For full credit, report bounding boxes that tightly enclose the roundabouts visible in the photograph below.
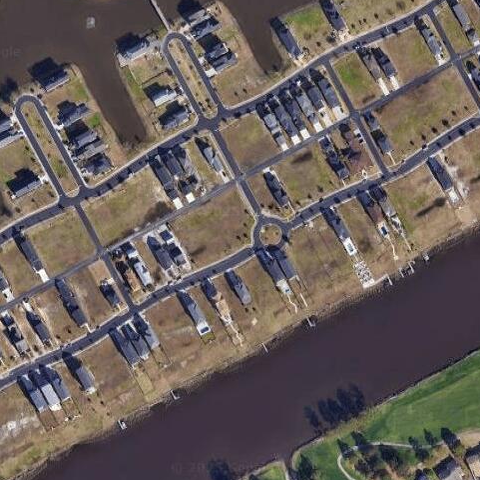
[250,214,291,255]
